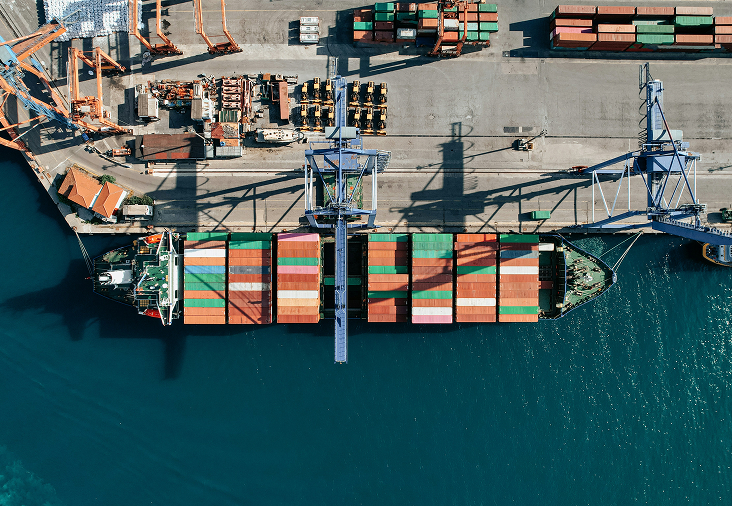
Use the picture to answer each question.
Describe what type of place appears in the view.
port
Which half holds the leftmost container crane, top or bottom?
top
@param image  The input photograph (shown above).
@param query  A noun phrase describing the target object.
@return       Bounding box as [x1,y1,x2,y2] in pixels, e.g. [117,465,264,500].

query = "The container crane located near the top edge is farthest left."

[0,0,75,158]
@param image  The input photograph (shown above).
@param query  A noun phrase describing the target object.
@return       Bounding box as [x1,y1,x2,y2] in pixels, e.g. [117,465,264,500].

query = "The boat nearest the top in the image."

[257,127,302,143]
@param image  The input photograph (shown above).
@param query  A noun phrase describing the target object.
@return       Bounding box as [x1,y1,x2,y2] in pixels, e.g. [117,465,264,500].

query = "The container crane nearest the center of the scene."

[303,59,387,367]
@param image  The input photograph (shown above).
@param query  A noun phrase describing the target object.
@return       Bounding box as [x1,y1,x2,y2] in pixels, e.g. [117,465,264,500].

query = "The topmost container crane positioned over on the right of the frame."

[426,0,468,56]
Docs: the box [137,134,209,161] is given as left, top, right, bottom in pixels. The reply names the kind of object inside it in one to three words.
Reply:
building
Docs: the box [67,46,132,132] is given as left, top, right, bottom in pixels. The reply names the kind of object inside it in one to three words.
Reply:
container crane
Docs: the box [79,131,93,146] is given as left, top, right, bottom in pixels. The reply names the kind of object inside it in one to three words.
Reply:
vehicle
